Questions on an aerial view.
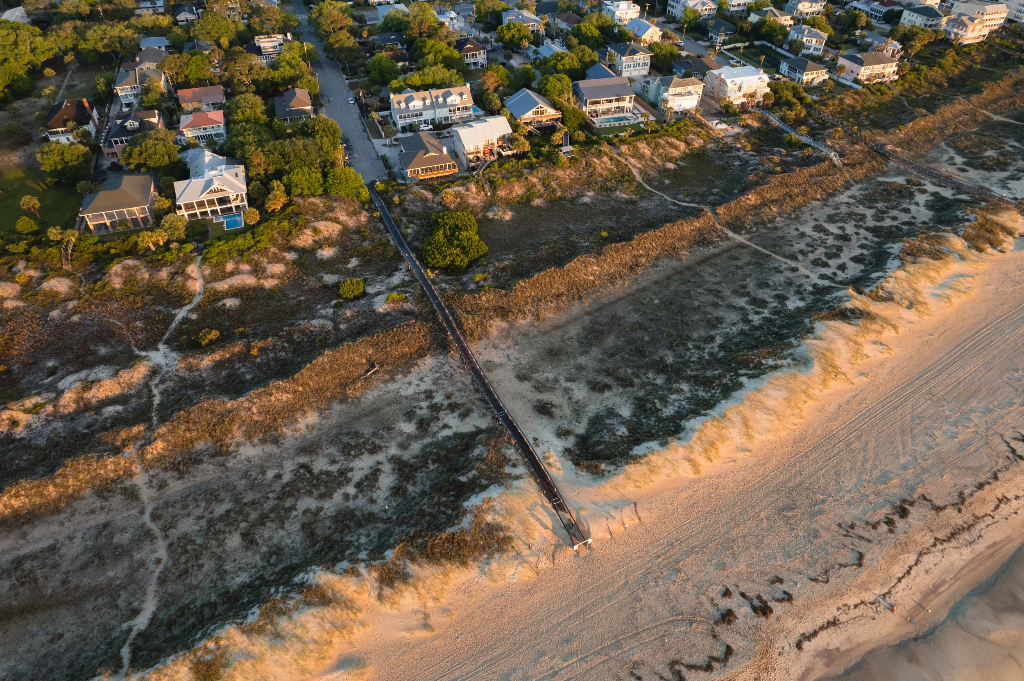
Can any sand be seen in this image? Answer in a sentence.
Yes, sand shows up in the scene.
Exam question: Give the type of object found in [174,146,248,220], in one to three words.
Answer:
house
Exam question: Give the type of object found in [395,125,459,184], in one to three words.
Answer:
house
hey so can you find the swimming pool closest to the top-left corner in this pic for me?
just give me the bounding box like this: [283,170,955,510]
[214,212,244,229]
